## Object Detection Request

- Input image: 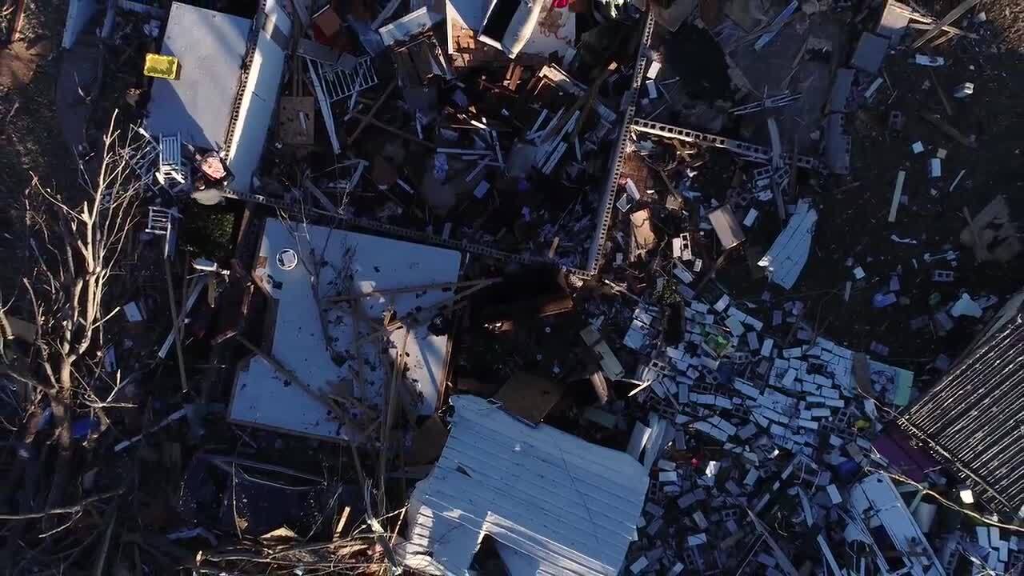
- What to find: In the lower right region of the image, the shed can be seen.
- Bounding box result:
[894,321,1024,523]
